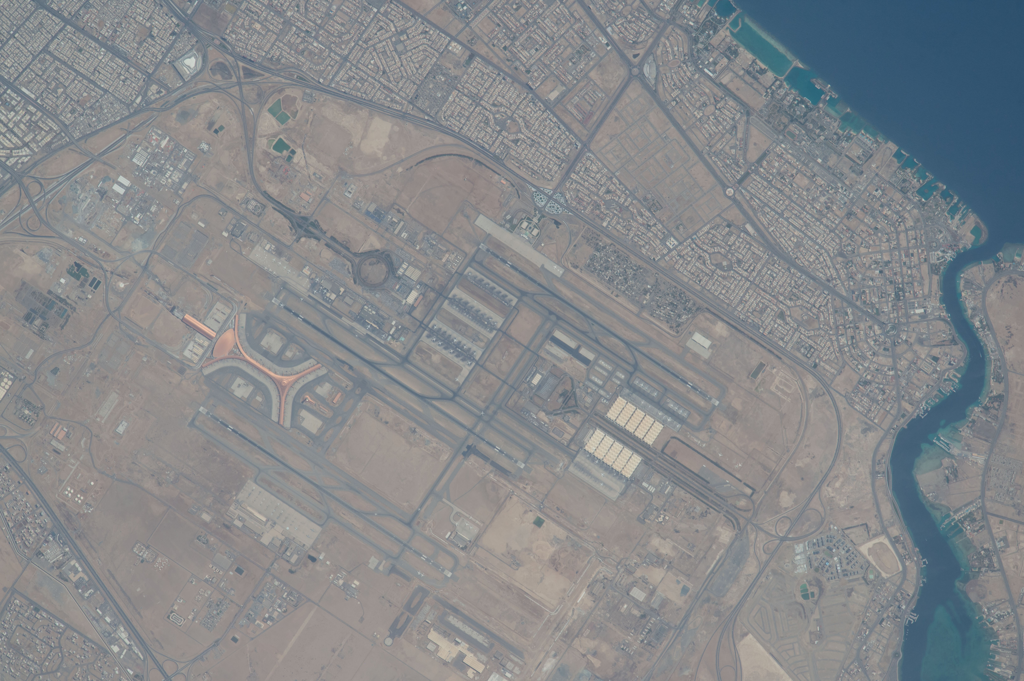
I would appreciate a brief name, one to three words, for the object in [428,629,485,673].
hangar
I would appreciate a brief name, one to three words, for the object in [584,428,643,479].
building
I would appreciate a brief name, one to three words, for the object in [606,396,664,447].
building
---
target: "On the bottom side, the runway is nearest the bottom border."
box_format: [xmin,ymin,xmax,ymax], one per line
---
[197,405,453,577]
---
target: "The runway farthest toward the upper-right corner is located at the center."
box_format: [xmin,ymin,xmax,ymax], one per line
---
[477,241,721,408]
